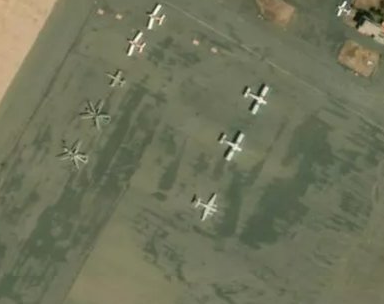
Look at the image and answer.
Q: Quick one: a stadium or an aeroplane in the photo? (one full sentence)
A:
There is an aeroplane in the scene.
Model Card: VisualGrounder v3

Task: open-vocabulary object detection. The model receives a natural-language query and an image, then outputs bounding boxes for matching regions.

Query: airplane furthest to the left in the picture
[106,70,126,87]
